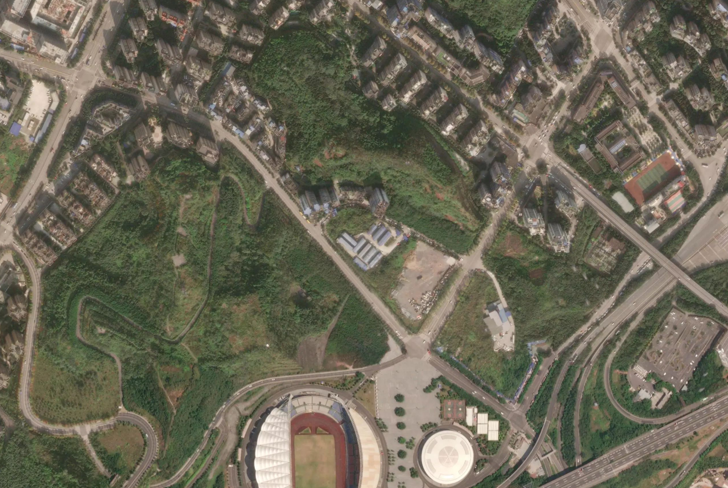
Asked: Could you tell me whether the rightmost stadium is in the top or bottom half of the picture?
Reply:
bottom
